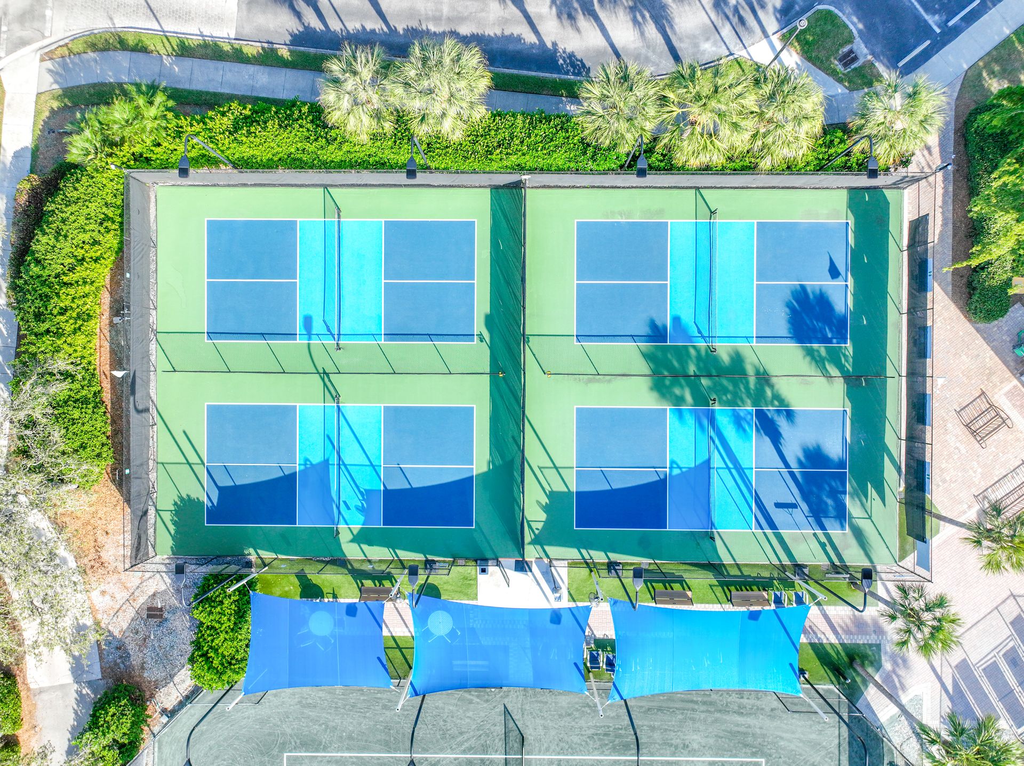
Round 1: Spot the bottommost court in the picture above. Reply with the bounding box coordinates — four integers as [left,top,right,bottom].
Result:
[157,685,893,766]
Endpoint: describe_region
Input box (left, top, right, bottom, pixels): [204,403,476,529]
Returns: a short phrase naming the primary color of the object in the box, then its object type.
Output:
blue sports court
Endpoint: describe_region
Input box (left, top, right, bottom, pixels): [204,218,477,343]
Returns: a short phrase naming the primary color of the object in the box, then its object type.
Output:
blue sports court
